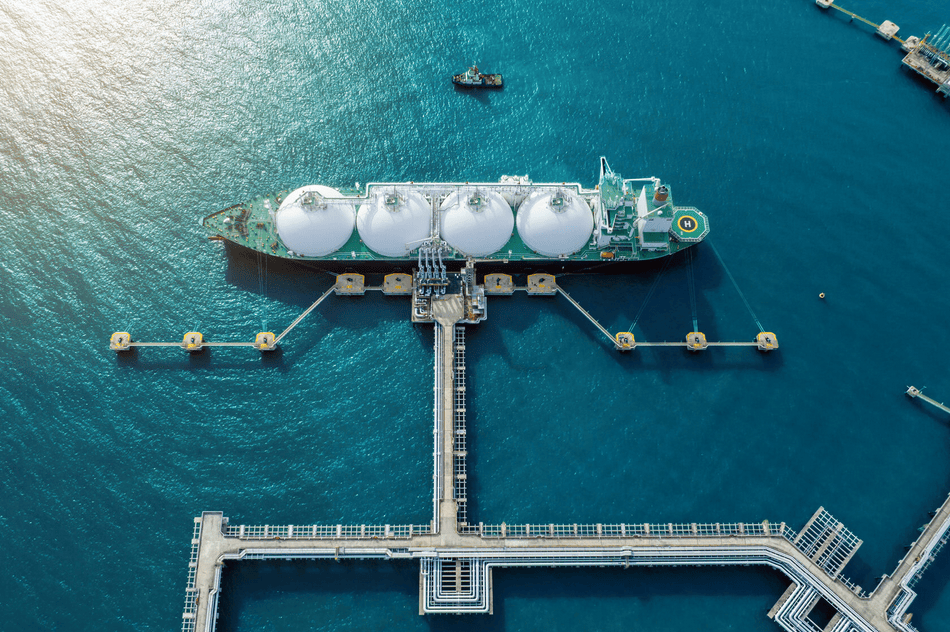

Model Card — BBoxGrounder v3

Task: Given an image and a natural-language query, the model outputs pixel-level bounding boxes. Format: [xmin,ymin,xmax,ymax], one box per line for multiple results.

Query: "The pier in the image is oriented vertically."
[192,511,241,632]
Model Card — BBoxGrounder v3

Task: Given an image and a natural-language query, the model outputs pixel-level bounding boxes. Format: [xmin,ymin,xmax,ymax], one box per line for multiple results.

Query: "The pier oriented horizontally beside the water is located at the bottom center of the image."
[224,533,787,566]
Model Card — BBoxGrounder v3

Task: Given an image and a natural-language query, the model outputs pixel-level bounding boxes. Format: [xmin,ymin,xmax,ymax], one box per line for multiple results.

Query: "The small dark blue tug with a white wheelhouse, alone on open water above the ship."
[451,63,502,88]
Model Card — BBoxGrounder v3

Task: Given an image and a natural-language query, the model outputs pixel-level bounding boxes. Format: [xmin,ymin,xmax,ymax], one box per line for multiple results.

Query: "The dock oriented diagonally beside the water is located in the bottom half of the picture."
[777,538,903,632]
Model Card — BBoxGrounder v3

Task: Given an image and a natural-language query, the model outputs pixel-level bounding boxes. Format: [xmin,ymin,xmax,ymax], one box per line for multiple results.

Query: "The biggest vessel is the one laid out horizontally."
[198,160,710,277]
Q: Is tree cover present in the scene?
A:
No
